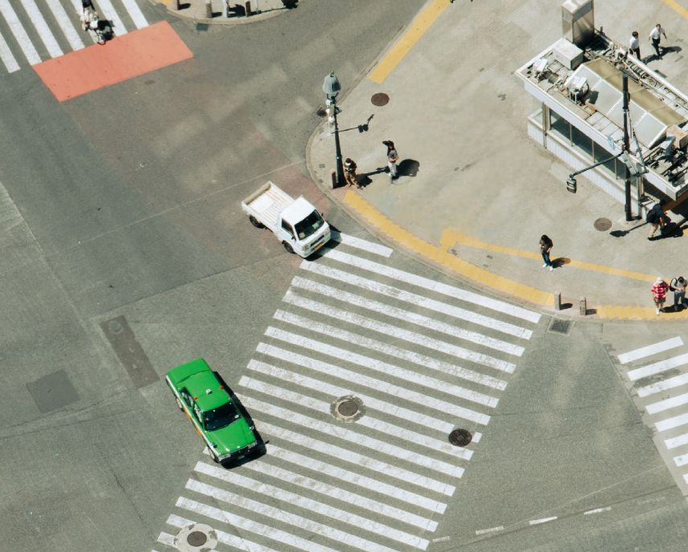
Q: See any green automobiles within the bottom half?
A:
Yes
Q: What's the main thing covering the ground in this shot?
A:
paved ground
